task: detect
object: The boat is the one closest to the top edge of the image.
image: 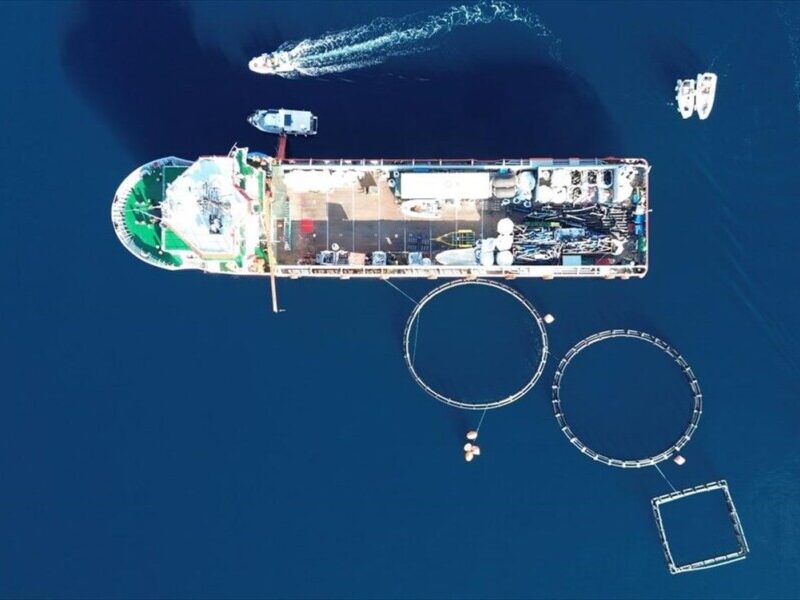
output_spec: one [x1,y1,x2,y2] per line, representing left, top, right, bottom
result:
[248,51,296,72]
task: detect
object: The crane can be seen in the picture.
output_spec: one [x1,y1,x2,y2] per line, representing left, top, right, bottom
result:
[258,189,284,312]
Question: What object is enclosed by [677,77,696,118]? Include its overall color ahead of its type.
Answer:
white boat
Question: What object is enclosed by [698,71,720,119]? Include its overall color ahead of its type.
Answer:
white boat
